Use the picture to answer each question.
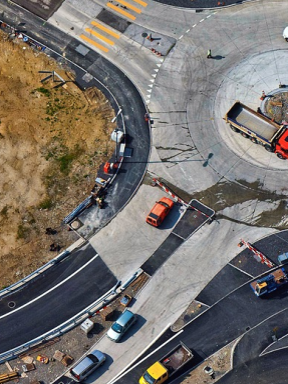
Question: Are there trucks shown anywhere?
Yes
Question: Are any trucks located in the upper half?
Yes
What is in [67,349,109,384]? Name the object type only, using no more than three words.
car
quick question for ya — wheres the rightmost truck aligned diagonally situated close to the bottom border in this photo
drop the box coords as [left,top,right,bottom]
[137,341,196,384]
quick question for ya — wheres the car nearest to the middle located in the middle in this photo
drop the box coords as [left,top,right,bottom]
[145,195,176,230]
